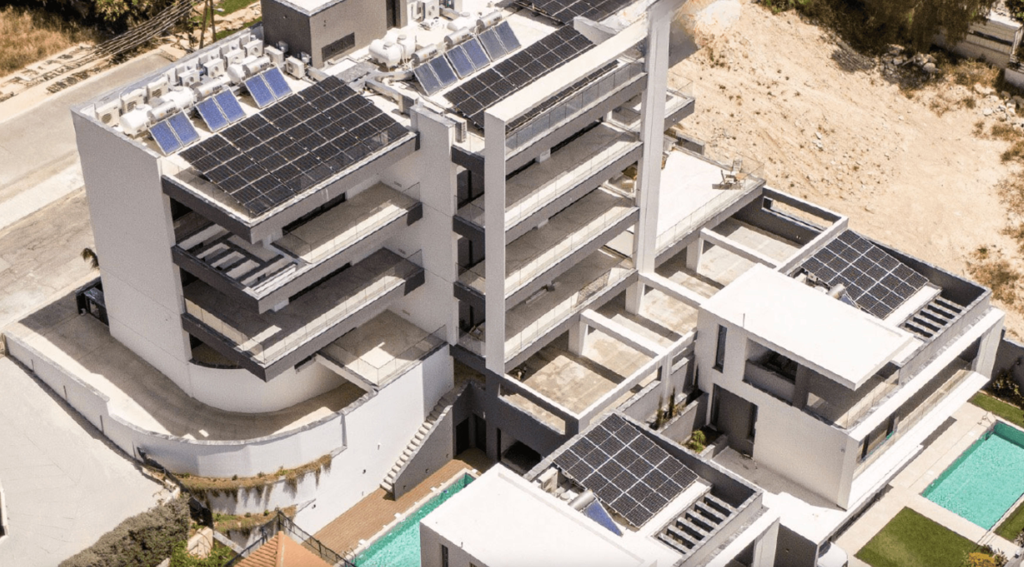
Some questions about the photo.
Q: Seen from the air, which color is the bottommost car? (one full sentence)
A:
The bottommost car is white.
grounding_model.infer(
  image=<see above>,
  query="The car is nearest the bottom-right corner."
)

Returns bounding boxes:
[816,539,858,567]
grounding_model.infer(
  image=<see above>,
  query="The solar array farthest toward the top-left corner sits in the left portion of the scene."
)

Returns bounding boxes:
[178,75,410,218]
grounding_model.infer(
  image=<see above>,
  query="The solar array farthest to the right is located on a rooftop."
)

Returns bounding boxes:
[802,230,931,320]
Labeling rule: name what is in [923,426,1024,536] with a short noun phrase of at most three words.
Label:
swimming pool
